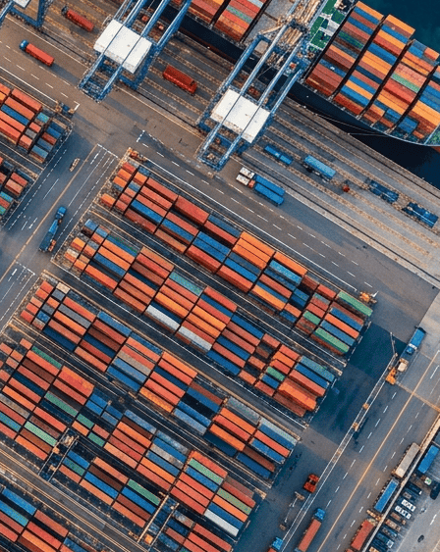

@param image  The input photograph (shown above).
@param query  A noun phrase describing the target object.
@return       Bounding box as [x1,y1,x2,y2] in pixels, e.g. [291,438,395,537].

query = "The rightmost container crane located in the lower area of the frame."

[129,493,179,552]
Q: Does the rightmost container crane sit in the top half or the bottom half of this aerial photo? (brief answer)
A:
top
